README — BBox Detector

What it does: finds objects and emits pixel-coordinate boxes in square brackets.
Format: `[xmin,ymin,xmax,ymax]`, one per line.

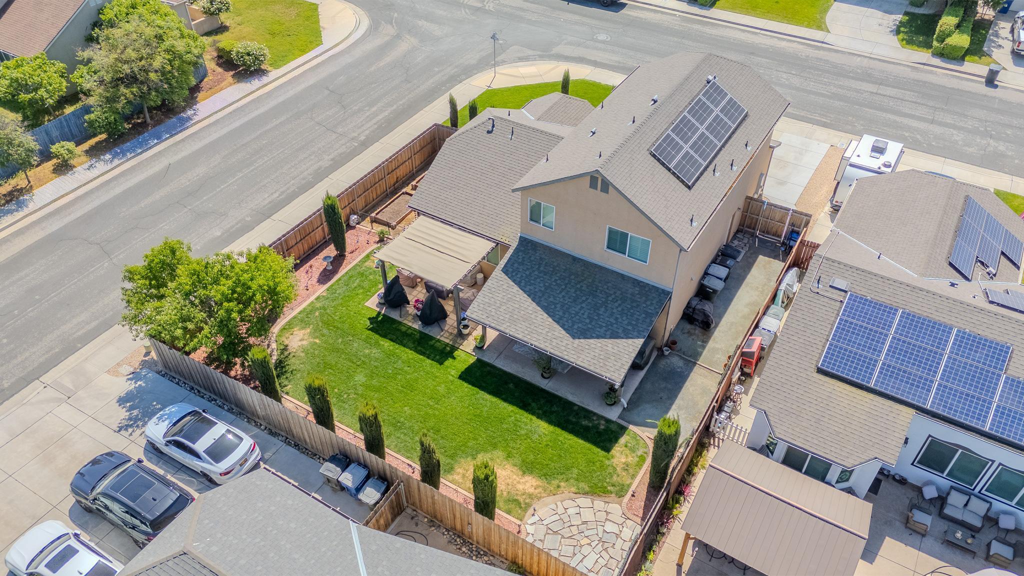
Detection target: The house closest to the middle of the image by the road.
[403,48,791,423]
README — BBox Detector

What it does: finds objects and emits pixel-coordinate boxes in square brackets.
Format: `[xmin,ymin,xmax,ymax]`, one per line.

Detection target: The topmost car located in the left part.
[139,401,255,485]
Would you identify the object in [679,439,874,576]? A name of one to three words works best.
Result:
gazebo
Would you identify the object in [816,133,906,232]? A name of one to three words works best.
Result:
vehicle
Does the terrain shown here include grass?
Yes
